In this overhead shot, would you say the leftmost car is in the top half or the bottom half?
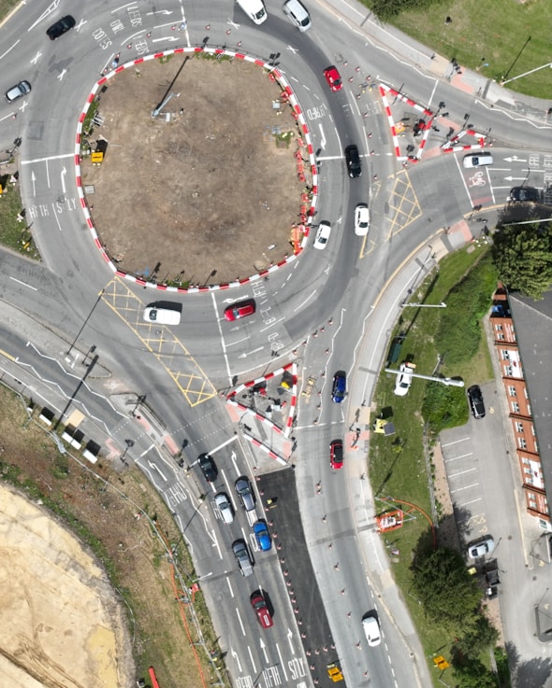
top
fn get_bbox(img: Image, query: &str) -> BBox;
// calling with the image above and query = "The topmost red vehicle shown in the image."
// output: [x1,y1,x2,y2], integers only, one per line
[322,65,342,94]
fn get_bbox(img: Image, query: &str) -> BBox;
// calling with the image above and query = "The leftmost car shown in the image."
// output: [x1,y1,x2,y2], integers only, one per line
[6,81,32,102]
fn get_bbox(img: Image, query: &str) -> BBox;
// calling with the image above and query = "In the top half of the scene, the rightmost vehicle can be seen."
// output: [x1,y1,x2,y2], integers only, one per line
[509,185,542,201]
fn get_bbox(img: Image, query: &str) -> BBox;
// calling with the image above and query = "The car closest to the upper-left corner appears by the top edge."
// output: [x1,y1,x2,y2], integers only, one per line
[46,16,75,39]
